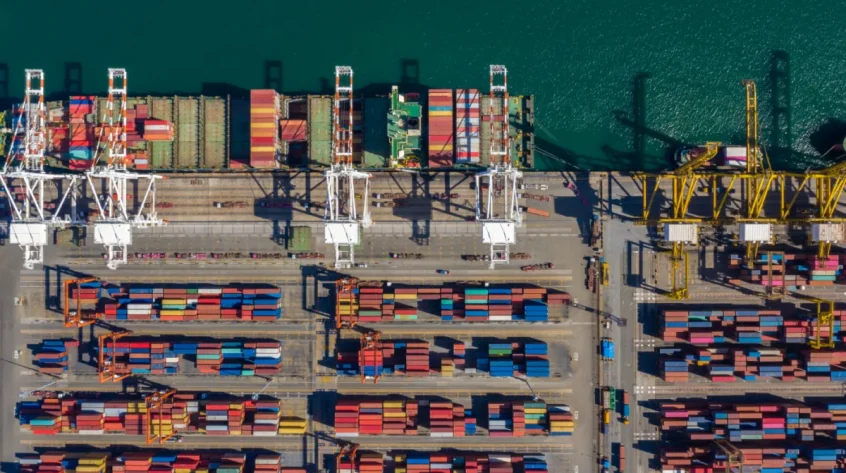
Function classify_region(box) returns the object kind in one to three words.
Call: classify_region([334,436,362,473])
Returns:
container crane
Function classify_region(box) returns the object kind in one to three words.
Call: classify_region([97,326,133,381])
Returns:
container crane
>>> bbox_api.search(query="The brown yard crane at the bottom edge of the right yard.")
[711,441,746,473]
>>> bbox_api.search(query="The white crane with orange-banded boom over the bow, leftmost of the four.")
[0,64,97,270]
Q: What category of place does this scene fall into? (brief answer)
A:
port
